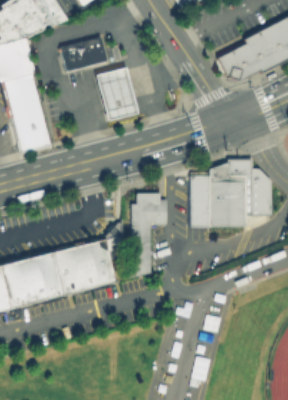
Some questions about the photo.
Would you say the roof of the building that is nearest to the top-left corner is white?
Yes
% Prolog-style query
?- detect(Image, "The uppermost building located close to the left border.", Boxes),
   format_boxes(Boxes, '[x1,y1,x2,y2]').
[0,0,68,44]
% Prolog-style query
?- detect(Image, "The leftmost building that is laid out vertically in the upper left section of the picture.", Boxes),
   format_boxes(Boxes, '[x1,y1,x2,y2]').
[0,38,53,152]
